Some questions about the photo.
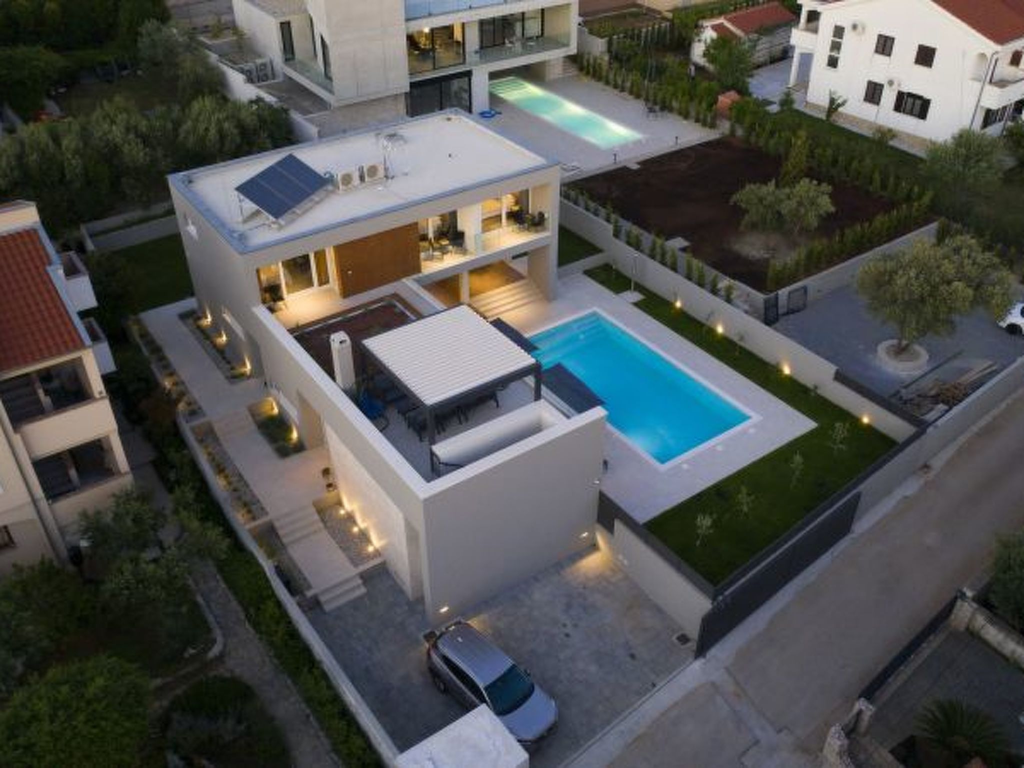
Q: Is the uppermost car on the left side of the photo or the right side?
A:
right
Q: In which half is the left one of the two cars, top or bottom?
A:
bottom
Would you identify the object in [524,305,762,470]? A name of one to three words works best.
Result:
swimming pool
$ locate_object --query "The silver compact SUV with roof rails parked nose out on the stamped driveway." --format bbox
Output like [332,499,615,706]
[427,624,560,756]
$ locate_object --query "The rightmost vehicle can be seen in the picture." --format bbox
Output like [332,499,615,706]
[1004,293,1024,329]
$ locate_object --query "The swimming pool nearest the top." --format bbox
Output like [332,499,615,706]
[488,78,643,149]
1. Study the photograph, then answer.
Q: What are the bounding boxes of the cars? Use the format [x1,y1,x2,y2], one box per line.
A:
[427,624,560,756]
[1004,293,1024,329]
